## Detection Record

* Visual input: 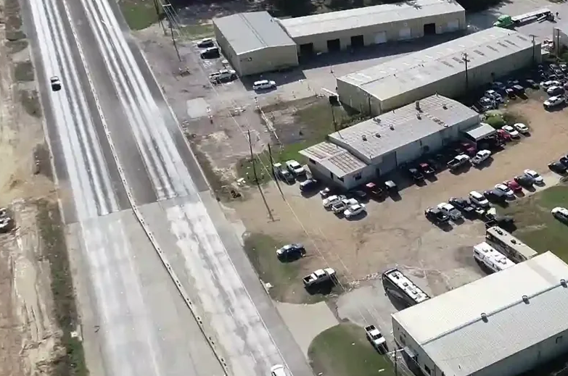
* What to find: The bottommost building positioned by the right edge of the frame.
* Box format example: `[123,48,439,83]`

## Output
[395,248,568,376]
